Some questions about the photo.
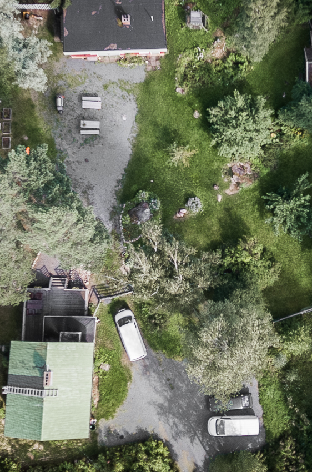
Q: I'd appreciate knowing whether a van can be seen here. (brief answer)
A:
Yes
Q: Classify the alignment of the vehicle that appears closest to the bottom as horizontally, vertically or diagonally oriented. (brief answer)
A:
horizontally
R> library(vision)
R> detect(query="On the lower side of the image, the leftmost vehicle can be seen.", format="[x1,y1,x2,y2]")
[113,308,148,364]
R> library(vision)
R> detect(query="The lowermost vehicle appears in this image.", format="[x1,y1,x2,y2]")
[205,414,260,441]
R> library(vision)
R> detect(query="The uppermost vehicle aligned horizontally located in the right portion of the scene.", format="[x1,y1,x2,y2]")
[209,392,254,415]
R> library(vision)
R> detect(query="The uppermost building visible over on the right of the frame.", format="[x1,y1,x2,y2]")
[189,11,210,34]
